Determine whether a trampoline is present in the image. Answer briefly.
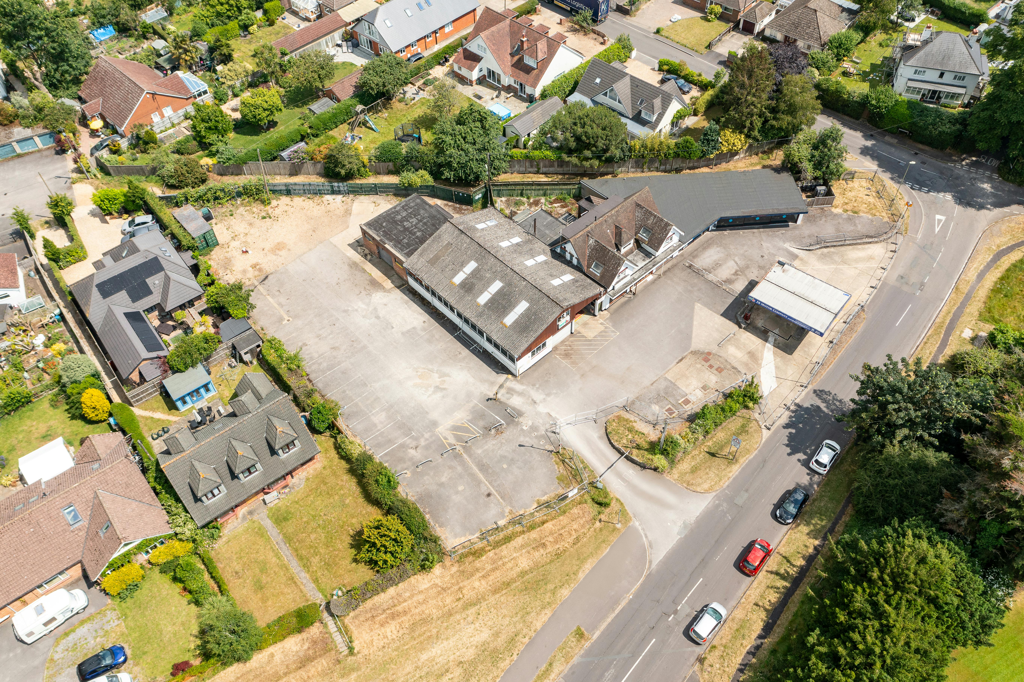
Yes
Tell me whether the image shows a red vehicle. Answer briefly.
Yes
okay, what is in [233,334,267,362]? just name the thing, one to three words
shed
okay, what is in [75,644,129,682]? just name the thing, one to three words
car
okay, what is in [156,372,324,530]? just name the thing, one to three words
house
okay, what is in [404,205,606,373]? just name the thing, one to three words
building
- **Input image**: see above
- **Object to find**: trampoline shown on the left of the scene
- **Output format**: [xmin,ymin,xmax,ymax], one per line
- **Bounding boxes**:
[393,119,421,145]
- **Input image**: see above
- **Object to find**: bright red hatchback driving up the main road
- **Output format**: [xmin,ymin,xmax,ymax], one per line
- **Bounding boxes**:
[739,538,771,578]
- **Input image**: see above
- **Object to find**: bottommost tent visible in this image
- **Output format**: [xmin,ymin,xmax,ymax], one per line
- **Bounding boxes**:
[18,442,76,488]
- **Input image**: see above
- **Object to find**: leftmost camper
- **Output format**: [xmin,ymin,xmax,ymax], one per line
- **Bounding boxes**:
[14,592,91,641]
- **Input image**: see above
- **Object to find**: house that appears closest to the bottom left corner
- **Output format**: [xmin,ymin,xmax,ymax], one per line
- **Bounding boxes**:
[0,431,175,623]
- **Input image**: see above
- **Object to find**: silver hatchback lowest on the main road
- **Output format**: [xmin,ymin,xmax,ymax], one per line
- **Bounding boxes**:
[689,601,727,647]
